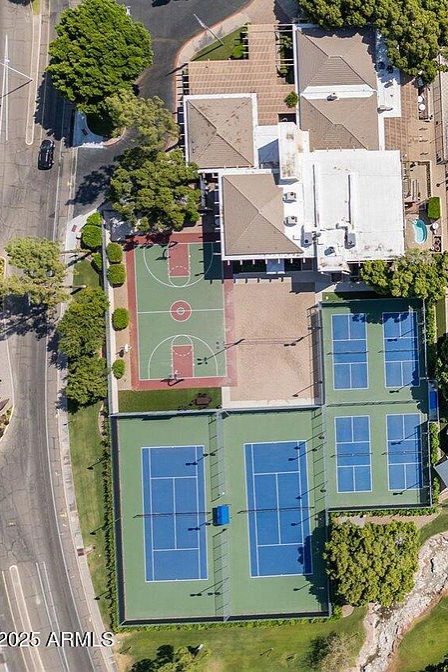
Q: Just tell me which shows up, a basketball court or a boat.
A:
basketball court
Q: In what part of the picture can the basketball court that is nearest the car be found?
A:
center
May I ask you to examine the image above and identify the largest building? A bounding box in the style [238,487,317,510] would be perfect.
[179,23,406,276]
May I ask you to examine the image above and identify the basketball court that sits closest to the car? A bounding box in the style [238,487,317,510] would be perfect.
[126,234,236,390]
